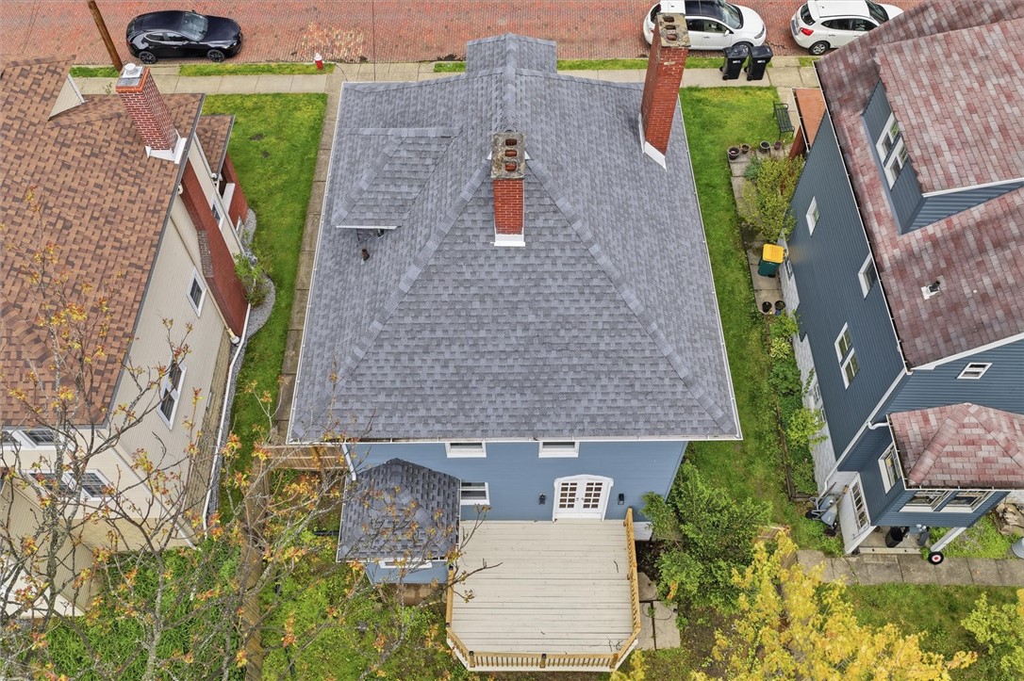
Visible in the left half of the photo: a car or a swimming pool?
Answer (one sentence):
The one visible in the left half of the photo is a car.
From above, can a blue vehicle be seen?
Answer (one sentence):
No, the scene contains no blue vehicle.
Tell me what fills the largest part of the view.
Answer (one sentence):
The bulk of the photo consists of buildings.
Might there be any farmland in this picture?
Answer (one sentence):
No, there is no farmland in the image.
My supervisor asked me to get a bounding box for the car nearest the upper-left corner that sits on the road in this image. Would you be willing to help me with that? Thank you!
[126,8,245,62]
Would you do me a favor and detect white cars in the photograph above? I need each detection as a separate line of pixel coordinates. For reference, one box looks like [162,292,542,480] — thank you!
[786,0,892,58]
[647,2,765,54]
